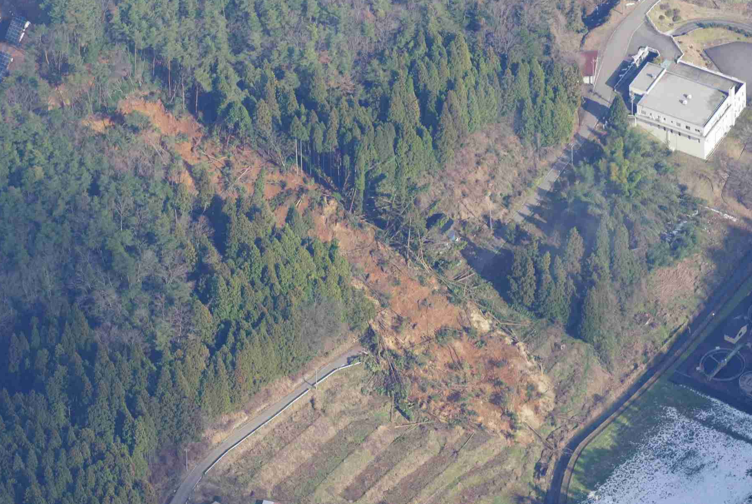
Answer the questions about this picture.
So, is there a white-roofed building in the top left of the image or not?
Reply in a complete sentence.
No, there is no white-roofed building in the top left of the image.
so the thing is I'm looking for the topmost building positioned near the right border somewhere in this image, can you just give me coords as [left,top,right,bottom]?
[623,56,742,157]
